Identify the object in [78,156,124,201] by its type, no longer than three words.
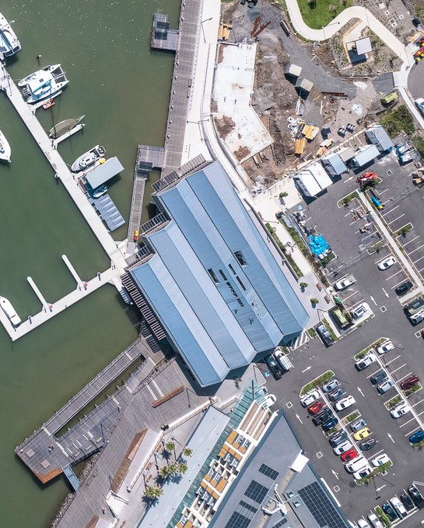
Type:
shed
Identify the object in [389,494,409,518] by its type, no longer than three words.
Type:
vehicle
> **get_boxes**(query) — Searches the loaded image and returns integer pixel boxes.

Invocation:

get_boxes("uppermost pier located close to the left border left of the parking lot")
[0,256,128,340]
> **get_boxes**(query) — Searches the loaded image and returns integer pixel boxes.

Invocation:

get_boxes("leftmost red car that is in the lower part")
[307,401,325,415]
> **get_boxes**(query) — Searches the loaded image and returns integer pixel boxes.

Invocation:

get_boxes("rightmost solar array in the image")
[299,481,346,528]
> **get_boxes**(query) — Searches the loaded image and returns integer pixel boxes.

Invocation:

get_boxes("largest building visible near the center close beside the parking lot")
[123,162,309,388]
